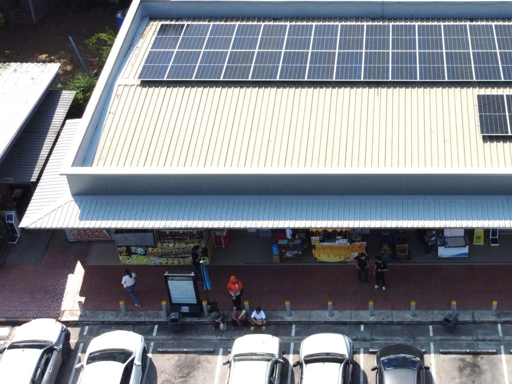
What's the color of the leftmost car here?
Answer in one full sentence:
In this view, the leftmost car is white.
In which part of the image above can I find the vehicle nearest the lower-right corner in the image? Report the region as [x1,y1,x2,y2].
[369,343,432,384]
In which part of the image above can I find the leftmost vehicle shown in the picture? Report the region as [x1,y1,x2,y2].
[0,318,66,384]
